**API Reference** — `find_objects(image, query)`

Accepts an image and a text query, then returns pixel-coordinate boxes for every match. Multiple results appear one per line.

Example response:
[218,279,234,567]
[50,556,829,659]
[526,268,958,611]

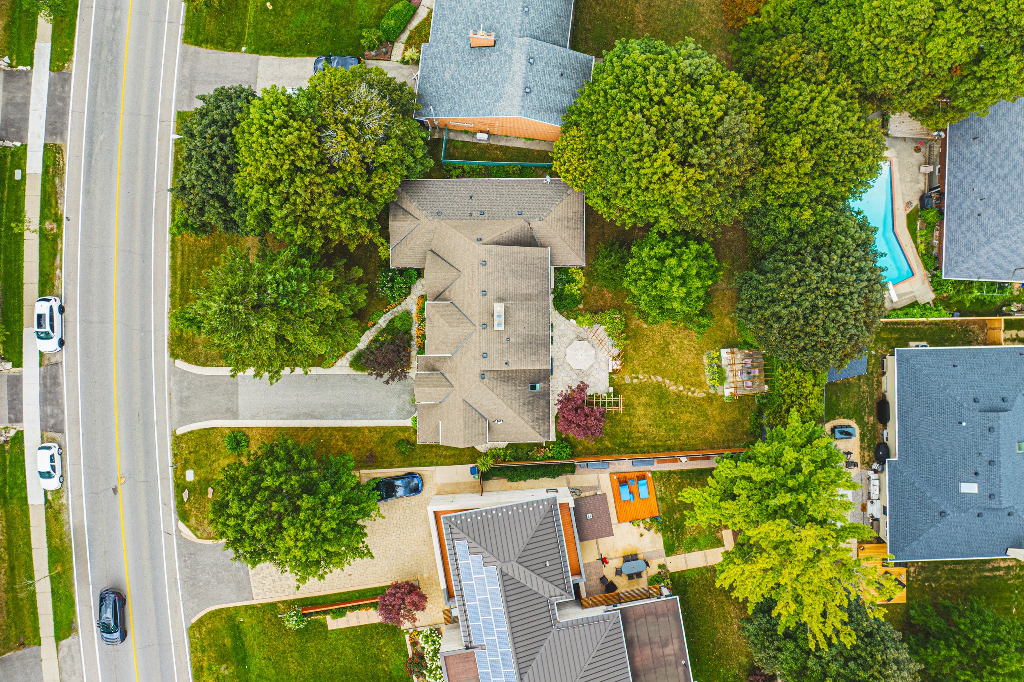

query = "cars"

[37,442,68,490]
[98,588,131,644]
[35,296,68,352]
[314,53,364,79]
[371,472,424,502]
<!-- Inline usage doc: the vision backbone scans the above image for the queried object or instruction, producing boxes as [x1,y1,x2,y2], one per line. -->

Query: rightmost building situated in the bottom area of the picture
[879,345,1024,562]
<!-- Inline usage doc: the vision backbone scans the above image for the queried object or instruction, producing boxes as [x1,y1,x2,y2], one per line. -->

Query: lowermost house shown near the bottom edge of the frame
[427,477,693,682]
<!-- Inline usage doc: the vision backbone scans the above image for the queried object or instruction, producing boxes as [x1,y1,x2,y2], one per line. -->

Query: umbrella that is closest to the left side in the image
[566,341,595,370]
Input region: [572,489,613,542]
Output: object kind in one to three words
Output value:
building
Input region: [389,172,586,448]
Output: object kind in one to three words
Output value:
house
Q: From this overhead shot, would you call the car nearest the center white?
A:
No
